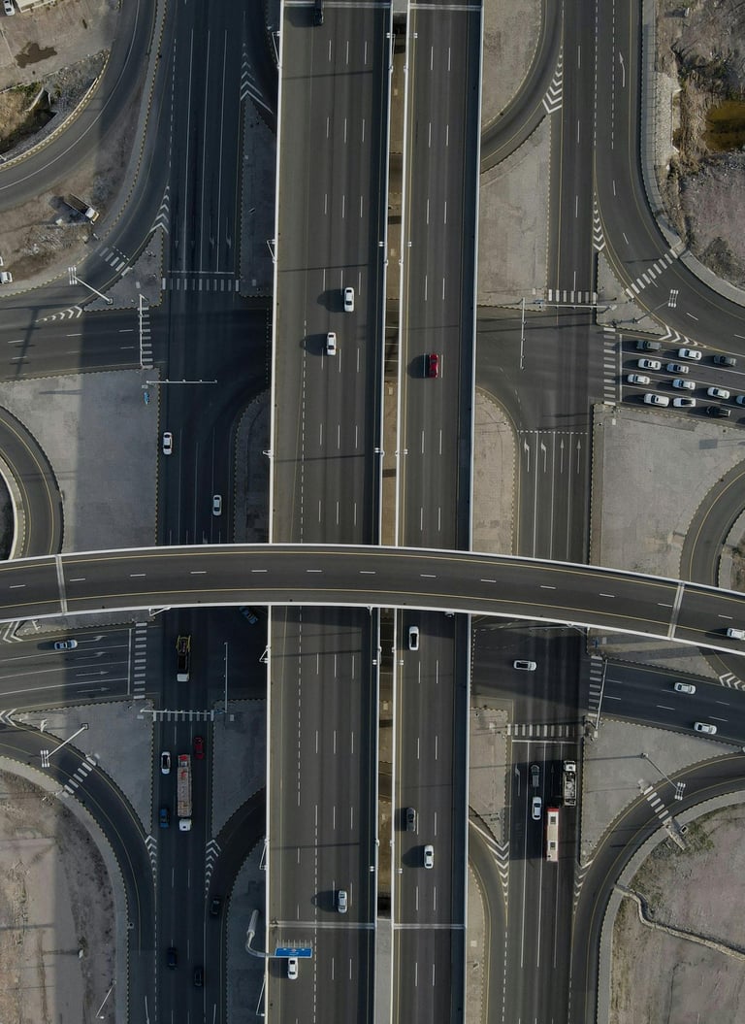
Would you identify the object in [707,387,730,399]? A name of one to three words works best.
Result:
vehicle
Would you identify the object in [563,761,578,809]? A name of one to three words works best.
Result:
vehicle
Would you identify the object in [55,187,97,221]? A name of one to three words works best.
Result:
truck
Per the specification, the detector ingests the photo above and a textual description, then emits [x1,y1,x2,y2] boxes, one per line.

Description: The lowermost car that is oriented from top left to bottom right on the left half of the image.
[240,604,258,624]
